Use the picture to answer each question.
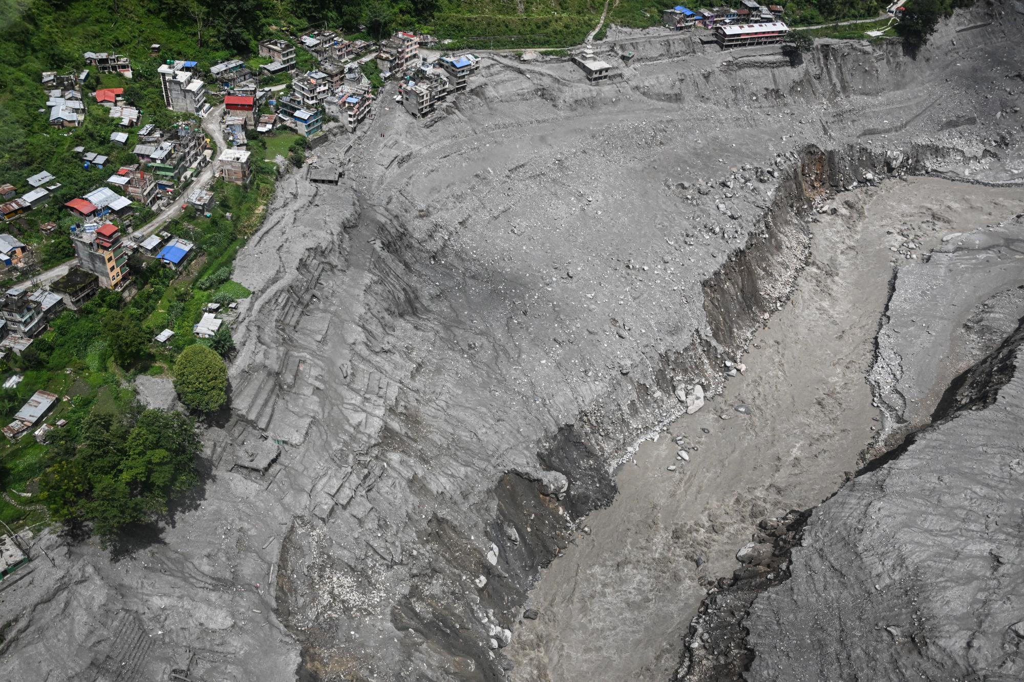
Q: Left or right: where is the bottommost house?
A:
left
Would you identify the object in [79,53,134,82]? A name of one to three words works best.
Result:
house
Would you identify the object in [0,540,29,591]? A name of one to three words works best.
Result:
house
